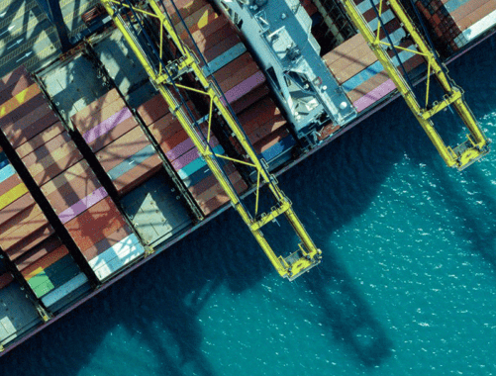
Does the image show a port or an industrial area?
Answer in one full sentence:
The picture captures a port.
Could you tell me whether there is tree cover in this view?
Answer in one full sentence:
No, there's no tree cover in this view.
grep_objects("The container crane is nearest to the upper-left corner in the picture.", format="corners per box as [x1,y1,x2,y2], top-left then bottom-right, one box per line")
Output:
[29,0,322,284]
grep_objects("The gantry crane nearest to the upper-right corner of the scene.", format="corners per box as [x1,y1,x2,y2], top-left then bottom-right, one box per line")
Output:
[333,0,492,173]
